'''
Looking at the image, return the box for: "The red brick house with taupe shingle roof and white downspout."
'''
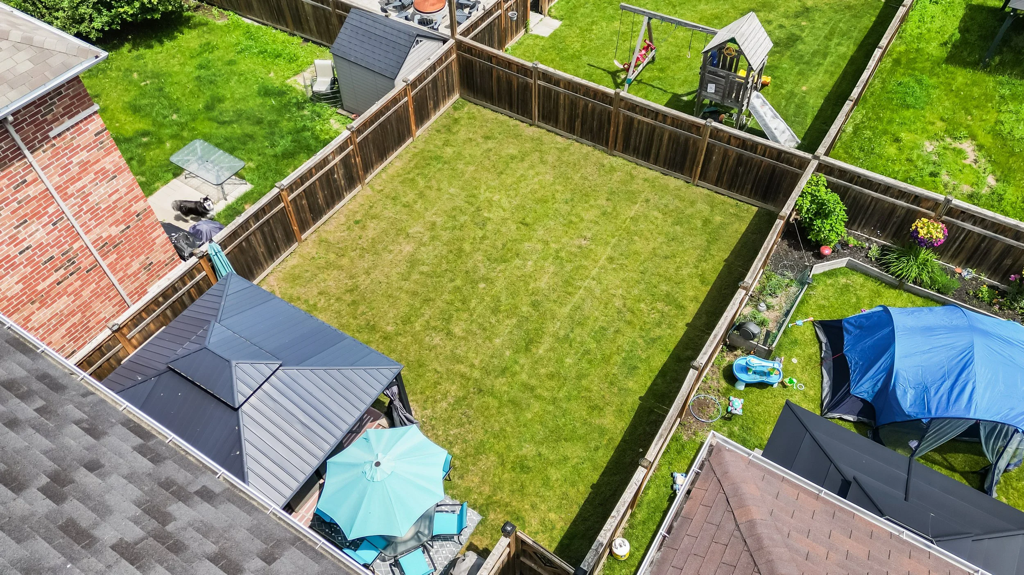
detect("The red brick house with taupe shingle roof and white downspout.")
[0,8,183,365]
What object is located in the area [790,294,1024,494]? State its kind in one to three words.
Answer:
tent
